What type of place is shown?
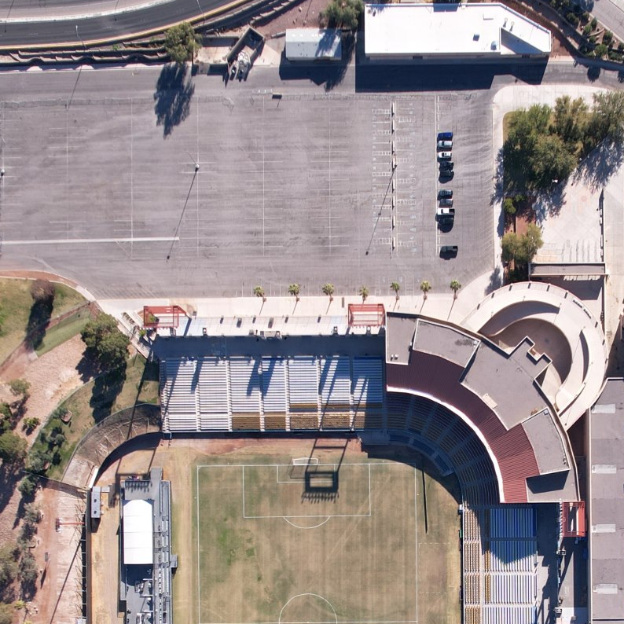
sports ground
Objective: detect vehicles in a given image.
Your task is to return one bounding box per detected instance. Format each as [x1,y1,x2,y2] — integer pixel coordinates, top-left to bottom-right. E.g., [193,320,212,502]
[440,169,455,177]
[440,162,454,169]
[439,190,454,197]
[437,140,452,149]
[437,152,452,159]
[440,216,454,223]
[441,248,458,254]
[437,132,452,139]
[439,199,454,206]
[437,208,455,215]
